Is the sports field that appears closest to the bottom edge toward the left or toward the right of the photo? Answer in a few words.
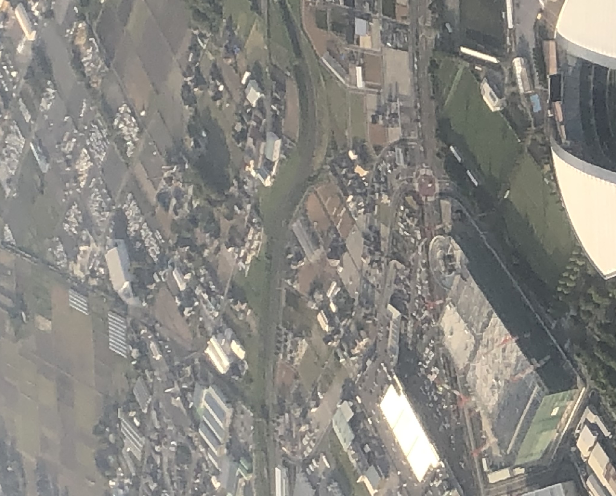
right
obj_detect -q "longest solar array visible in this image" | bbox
[107,313,127,358]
